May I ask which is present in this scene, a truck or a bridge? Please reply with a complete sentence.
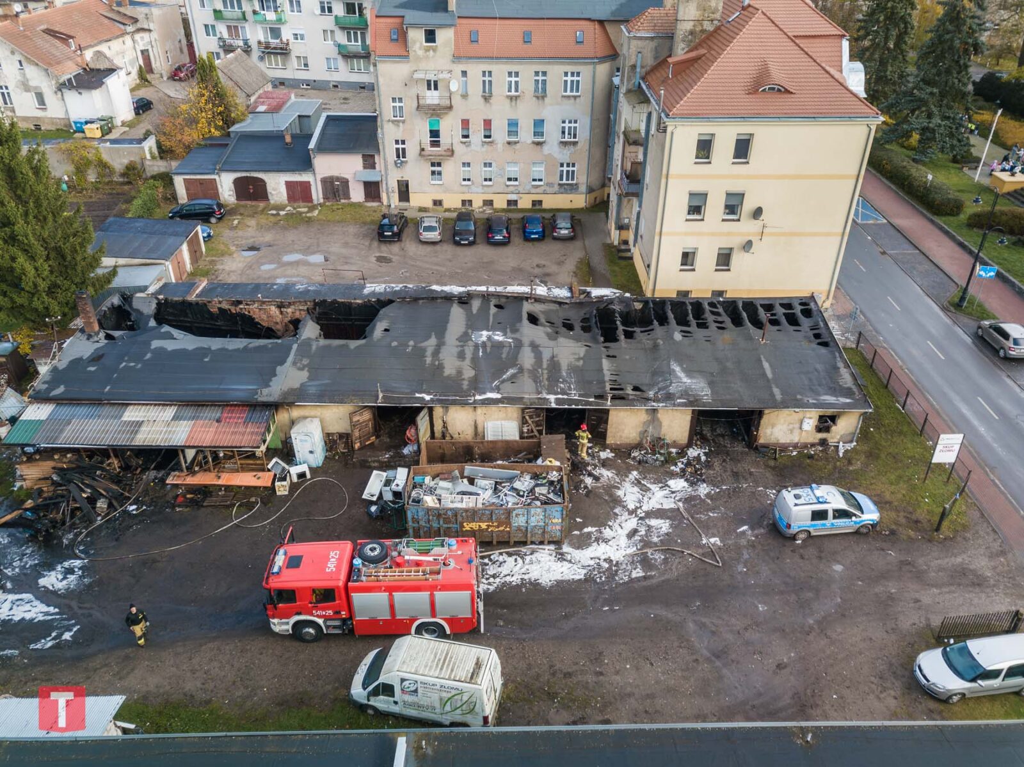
It is a truck that can be seen here.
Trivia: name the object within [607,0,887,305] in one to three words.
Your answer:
house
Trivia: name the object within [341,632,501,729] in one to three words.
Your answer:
van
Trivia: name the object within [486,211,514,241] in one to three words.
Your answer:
car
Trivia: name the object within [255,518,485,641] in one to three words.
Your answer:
truck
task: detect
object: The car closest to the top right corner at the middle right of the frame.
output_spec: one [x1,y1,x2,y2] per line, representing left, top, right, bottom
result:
[974,319,1024,364]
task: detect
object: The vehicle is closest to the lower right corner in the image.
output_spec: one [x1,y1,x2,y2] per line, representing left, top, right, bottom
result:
[906,628,1024,705]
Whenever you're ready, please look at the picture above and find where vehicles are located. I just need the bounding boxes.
[170,64,190,78]
[486,211,514,241]
[519,209,546,237]
[341,632,501,729]
[417,210,445,239]
[906,628,1024,705]
[771,481,883,538]
[255,518,485,641]
[135,97,160,111]
[974,319,1024,364]
[549,209,577,237]
[379,208,416,239]
[166,196,225,220]
[166,214,220,238]
[450,208,479,242]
